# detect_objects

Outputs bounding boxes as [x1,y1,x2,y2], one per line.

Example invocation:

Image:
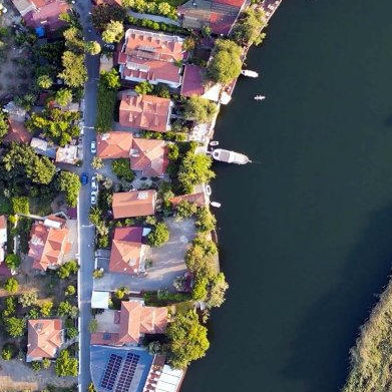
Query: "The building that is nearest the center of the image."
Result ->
[169,193,205,210]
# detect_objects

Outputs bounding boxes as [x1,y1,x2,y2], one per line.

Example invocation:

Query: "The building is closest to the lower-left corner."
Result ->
[27,317,68,358]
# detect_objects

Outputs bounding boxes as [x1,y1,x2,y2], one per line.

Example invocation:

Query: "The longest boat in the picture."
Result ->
[210,147,251,163]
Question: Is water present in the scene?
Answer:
Yes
